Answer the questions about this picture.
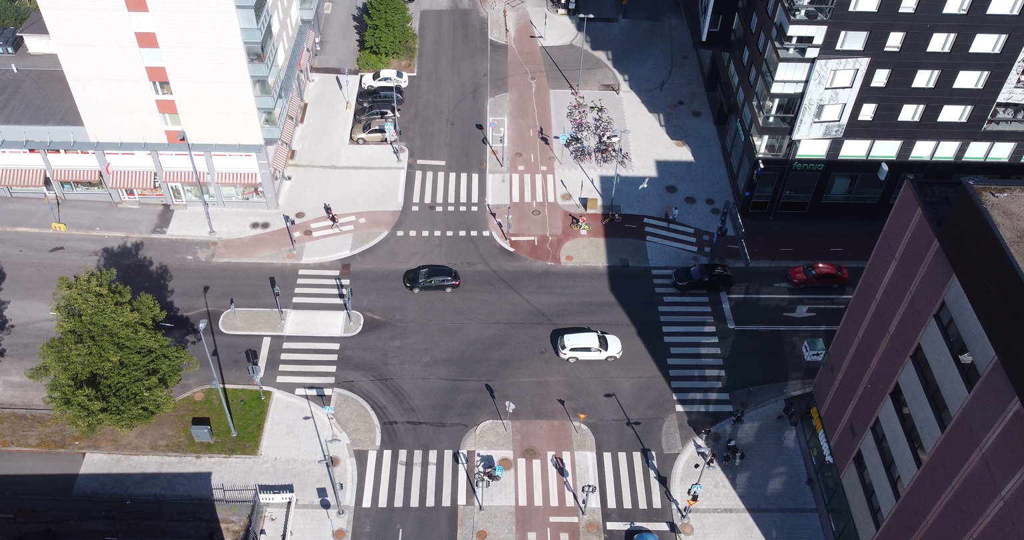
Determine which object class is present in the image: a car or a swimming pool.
car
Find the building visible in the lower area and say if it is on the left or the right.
right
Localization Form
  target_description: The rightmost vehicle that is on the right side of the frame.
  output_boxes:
[787,259,850,287]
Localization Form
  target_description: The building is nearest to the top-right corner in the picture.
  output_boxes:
[683,0,1024,213]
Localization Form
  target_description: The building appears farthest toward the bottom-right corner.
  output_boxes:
[801,177,1024,540]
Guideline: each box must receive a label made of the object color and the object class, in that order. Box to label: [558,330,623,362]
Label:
white car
